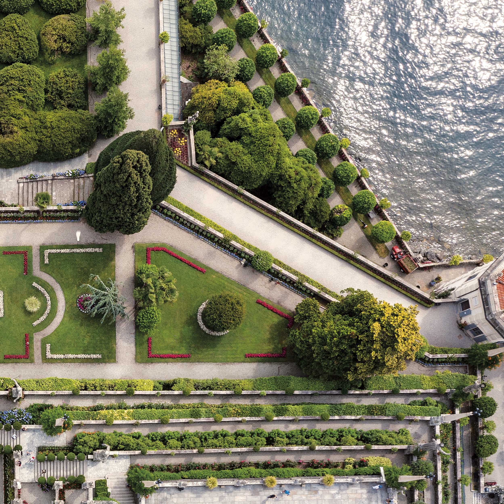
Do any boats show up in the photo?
No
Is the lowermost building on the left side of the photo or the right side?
right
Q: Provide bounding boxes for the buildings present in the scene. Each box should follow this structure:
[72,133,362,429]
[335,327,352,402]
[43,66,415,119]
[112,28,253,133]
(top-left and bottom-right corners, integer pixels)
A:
[162,0,182,120]
[440,250,504,353]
